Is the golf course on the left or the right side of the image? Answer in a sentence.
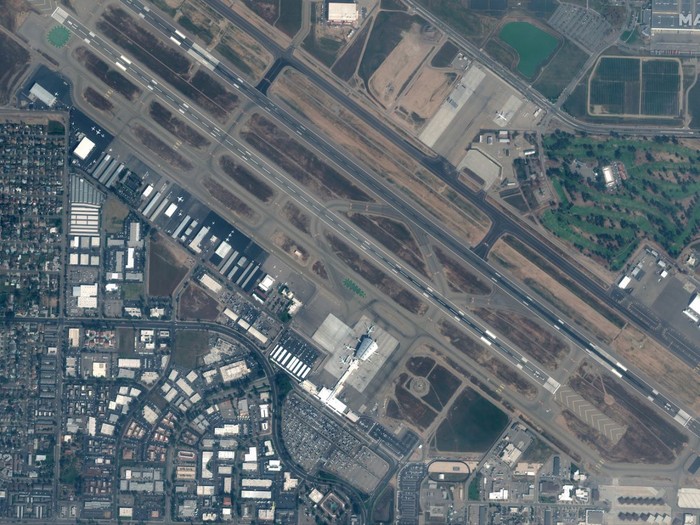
The golf course sits on the right side.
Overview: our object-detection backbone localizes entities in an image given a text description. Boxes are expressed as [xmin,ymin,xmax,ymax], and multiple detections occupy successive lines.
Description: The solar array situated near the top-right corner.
[588,56,684,118]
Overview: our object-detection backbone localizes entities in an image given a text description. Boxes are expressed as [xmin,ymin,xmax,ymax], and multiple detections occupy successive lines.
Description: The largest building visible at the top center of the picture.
[328,1,358,22]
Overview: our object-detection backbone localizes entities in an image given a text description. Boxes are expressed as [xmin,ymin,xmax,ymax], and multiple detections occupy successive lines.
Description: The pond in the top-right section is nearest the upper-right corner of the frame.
[500,22,558,79]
